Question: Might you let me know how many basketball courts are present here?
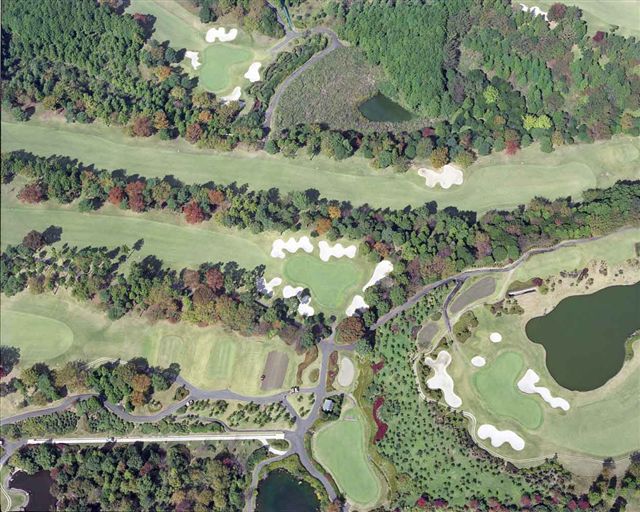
none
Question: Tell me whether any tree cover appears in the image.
Yes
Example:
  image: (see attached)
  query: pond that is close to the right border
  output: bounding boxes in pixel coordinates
[525,282,640,392]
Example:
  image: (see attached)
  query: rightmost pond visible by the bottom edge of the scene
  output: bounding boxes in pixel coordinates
[256,468,320,512]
